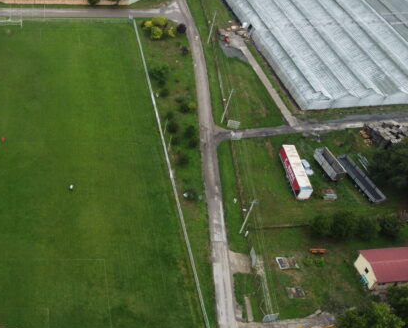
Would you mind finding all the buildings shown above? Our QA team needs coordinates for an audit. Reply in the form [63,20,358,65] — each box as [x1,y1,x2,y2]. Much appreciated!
[353,248,408,292]
[224,0,408,110]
